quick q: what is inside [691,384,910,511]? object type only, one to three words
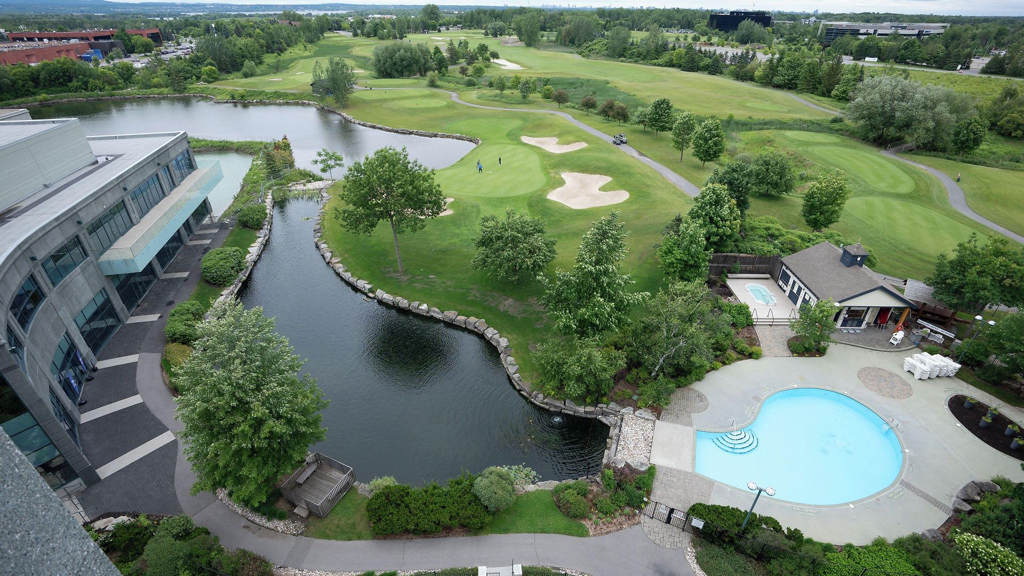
swimming pool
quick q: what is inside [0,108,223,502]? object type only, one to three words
building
